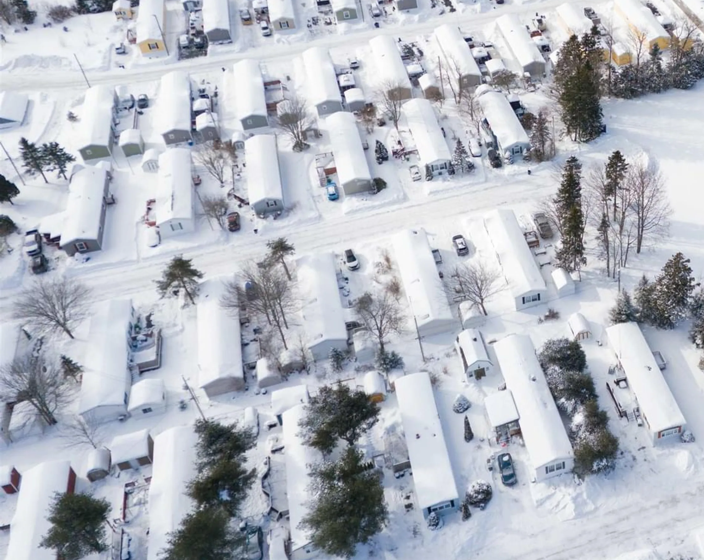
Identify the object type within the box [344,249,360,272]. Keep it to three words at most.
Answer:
car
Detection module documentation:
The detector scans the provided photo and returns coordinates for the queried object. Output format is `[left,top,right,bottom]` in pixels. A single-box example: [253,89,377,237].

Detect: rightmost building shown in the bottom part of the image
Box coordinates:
[602,325,688,449]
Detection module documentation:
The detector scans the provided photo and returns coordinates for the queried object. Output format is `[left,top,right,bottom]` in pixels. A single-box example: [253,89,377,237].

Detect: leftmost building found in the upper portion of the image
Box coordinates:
[0,90,39,131]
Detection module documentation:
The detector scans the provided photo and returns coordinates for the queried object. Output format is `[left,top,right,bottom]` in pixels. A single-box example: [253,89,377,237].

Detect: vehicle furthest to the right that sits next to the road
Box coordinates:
[584,8,596,22]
